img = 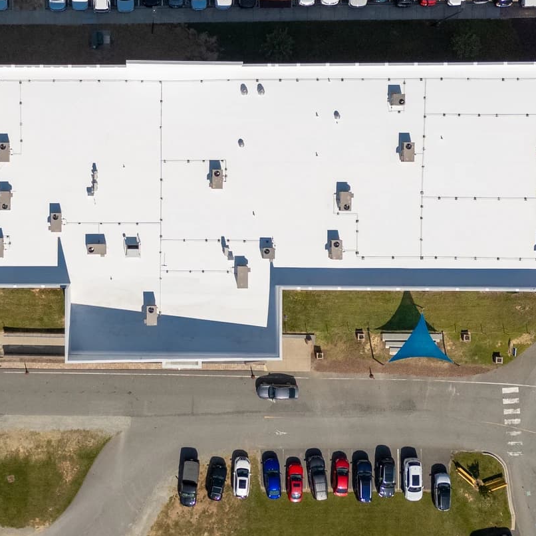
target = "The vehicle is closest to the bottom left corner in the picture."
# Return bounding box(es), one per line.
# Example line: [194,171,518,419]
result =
[179,459,198,507]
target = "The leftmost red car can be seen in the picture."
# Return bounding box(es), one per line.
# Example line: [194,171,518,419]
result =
[287,463,304,502]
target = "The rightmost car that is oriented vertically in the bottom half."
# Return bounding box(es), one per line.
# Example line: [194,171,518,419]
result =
[432,472,451,511]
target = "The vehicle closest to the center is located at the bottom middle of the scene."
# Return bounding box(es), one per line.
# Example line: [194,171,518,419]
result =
[257,382,298,400]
